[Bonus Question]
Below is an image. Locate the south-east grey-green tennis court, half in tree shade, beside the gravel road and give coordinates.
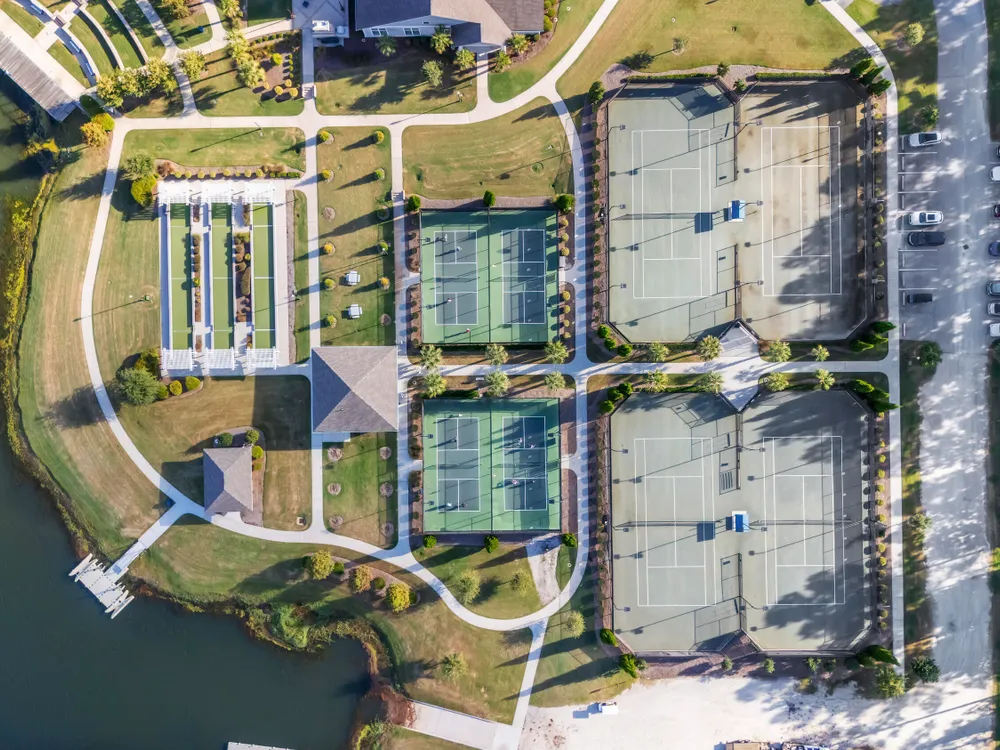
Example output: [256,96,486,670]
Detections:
[737,392,871,649]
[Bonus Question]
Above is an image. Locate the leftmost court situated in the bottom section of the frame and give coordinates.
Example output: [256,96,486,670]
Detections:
[423,399,491,532]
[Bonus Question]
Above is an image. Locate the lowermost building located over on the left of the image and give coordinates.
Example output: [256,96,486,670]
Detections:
[202,446,258,513]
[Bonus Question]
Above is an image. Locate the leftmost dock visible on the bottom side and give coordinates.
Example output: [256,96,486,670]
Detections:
[69,541,146,618]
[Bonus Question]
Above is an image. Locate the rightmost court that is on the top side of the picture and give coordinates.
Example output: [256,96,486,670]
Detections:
[734,84,866,341]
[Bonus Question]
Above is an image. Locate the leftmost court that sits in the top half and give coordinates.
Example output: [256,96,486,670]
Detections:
[420,210,489,343]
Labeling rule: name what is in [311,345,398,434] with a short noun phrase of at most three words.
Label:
building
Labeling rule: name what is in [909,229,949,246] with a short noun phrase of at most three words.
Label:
car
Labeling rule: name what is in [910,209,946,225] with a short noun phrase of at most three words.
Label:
car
